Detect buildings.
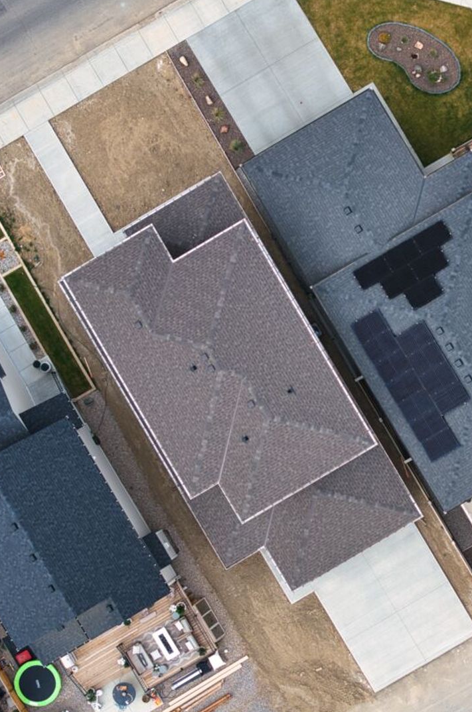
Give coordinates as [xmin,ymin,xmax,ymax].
[239,87,472,514]
[57,170,424,593]
[0,330,178,670]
